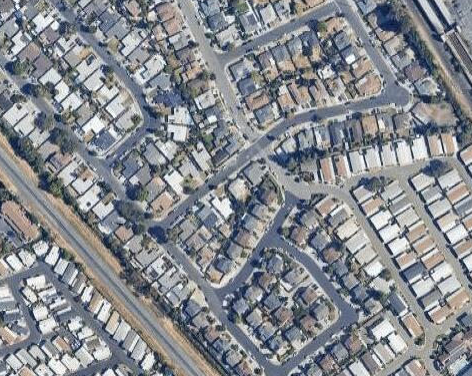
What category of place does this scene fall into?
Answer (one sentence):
The picture captures a residential area.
